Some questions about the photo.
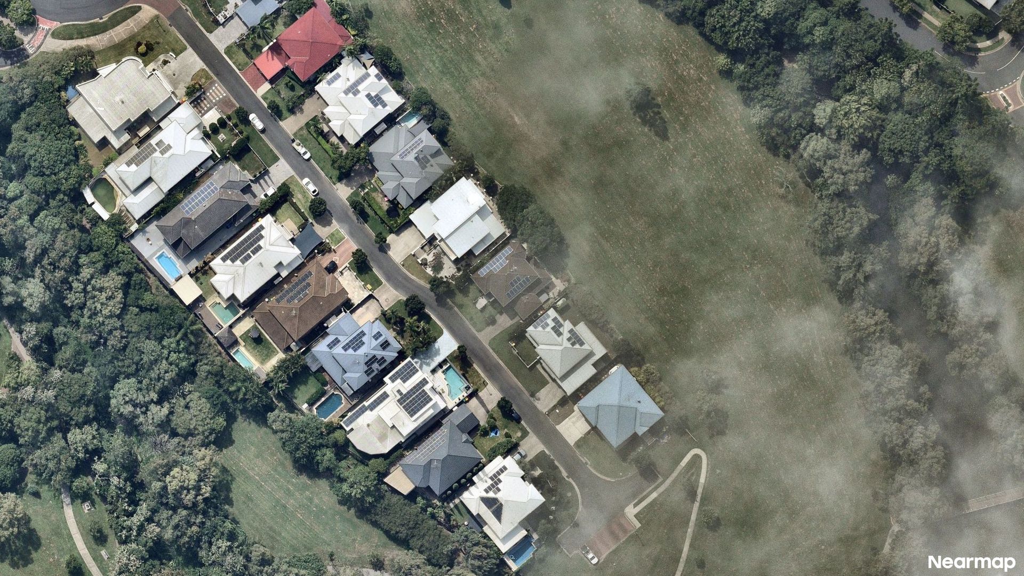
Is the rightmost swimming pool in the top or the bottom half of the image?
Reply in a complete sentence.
The rightmost swimming pool sits in the bottom half of the picture.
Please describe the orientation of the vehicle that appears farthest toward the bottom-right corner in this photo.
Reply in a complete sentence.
The vehicle that appears farthest toward the bottom-right corner is oriented at an angle.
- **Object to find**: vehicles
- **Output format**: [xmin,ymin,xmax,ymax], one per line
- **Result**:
[578,543,601,567]
[508,406,525,426]
[248,111,266,133]
[511,446,529,463]
[324,257,339,274]
[289,137,311,161]
[258,184,278,203]
[300,176,319,198]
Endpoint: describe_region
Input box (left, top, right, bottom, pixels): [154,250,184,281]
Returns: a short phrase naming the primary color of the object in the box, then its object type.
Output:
blue swimming pool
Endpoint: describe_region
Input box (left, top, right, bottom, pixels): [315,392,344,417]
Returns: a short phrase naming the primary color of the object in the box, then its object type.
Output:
blue swimming pool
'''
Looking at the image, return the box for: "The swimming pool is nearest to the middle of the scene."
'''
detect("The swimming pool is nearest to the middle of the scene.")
[443,365,465,401]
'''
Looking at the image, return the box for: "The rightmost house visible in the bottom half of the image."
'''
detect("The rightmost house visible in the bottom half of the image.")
[577,364,664,454]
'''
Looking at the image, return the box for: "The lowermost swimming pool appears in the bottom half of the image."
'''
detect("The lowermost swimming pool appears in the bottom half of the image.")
[505,534,535,568]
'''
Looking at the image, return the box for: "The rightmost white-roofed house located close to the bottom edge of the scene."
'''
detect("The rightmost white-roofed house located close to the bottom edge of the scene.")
[459,454,546,553]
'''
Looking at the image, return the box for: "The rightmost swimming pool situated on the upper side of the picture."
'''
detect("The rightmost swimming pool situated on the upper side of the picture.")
[397,110,423,128]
